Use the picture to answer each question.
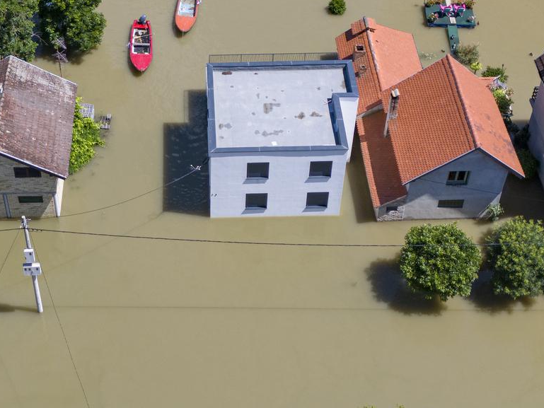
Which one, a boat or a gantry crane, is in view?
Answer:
boat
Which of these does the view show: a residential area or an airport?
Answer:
residential area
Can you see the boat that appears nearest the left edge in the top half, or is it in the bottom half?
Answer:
top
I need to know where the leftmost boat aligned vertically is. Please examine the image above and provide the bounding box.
[128,7,154,69]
